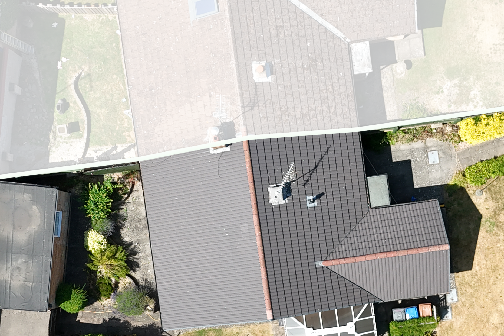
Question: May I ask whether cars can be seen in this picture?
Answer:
No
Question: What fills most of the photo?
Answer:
buildings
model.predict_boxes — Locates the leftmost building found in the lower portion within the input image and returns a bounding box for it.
[0,179,69,311]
